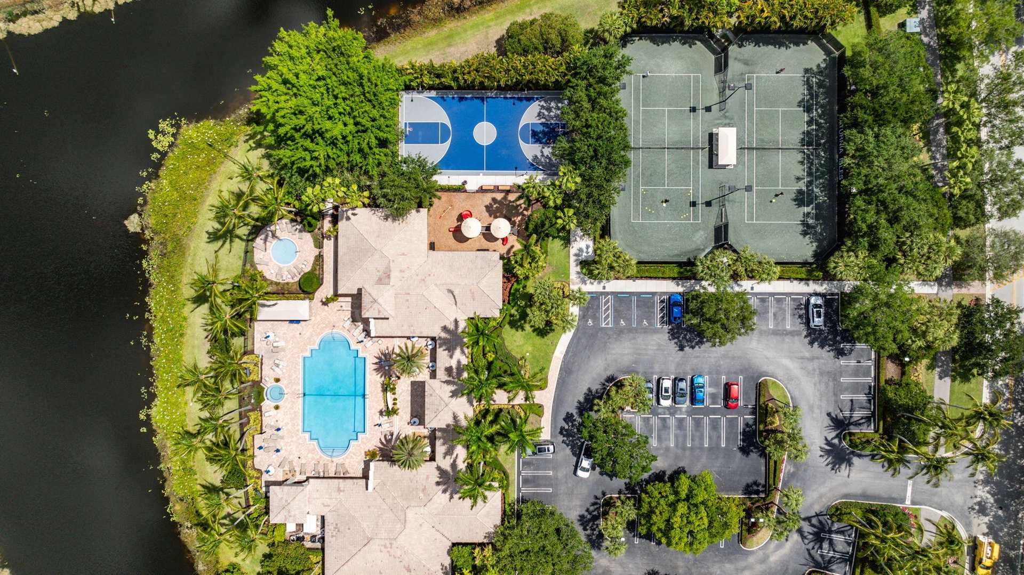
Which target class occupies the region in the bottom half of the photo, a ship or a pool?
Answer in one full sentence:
What appears in the bottom half of the photo is a pool.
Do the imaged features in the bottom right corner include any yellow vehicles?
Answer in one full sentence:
Yes, a yellow vehicle appears in the bottom right corner.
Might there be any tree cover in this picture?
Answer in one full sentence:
Yes, tree cover shows up in the scene.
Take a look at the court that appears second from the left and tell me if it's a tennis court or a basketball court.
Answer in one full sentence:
The court that appears second from the left is a tennis court.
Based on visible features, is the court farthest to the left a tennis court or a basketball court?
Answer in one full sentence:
It looks like the court farthest to the left is a basketball court.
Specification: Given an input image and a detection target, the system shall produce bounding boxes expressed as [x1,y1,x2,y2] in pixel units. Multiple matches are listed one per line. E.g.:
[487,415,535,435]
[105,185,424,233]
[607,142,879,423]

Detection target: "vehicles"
[808,296,824,328]
[576,441,593,478]
[526,442,556,457]
[674,376,688,405]
[658,376,672,406]
[975,537,1006,575]
[725,381,739,409]
[690,375,705,406]
[640,377,654,403]
[669,293,682,323]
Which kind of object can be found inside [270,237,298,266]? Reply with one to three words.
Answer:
swimming pool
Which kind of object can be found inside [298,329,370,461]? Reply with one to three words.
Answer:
swimming pool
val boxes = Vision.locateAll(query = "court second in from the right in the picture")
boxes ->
[613,34,722,261]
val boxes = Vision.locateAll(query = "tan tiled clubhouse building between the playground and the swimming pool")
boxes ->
[338,208,503,336]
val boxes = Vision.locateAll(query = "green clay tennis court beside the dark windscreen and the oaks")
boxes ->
[722,34,838,261]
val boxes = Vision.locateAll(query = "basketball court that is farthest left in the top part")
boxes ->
[399,91,570,176]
